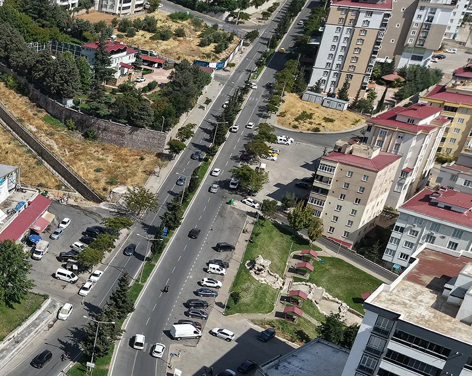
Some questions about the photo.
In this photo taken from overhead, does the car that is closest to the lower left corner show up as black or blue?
black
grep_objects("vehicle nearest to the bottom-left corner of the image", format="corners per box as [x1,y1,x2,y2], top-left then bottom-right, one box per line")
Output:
[30,348,54,370]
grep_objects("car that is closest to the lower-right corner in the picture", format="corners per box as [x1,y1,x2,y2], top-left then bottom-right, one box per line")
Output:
[256,325,278,344]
